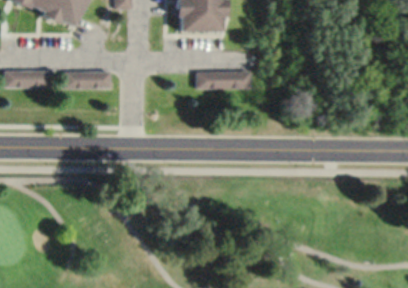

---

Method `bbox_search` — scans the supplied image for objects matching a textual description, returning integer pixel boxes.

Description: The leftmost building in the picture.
[4,71,46,88]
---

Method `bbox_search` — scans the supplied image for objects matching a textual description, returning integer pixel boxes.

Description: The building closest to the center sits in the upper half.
[195,71,250,90]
